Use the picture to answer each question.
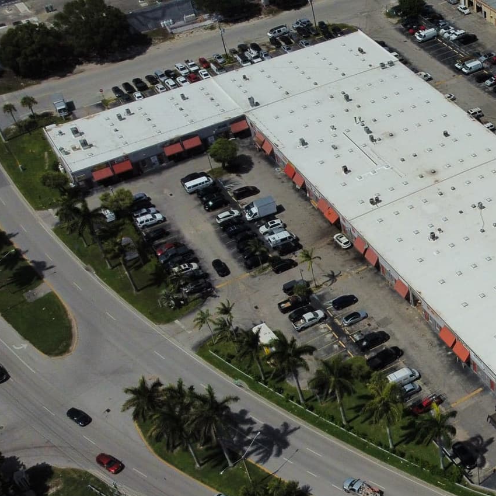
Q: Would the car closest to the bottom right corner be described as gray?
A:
No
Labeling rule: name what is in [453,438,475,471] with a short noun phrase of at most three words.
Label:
car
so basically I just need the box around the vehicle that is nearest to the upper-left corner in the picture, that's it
[47,89,69,118]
